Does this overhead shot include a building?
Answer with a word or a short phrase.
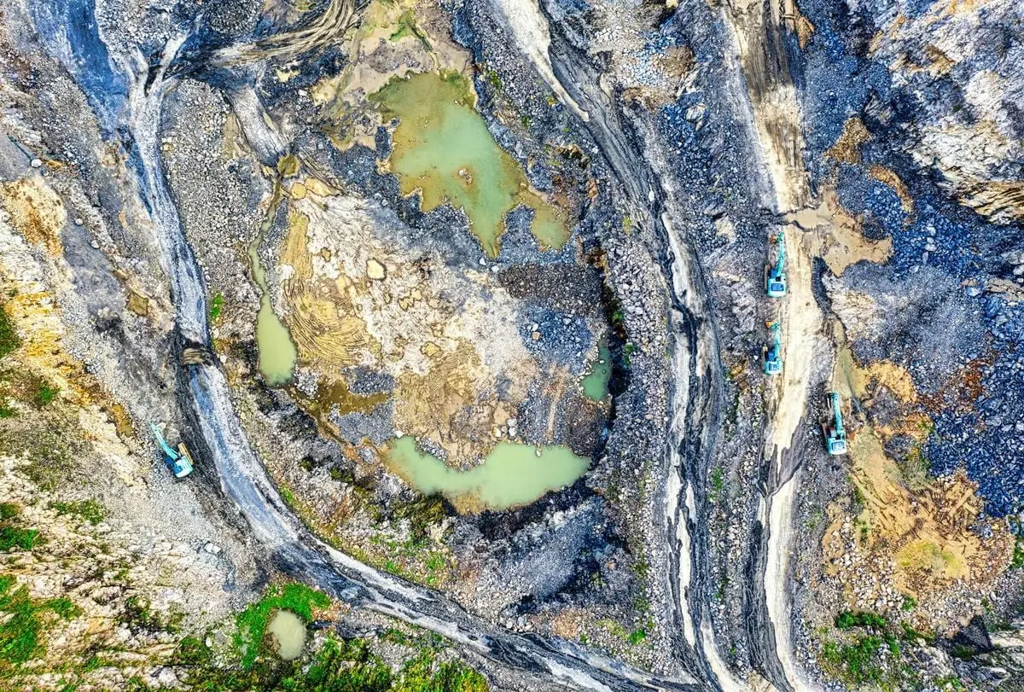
No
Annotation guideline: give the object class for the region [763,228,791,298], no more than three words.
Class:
work vehicle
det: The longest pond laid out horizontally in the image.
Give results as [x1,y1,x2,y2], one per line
[389,435,585,514]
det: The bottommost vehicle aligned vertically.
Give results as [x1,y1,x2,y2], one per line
[822,396,851,459]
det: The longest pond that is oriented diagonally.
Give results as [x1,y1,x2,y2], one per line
[371,76,568,258]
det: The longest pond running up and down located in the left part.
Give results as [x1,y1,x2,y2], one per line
[250,185,298,385]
